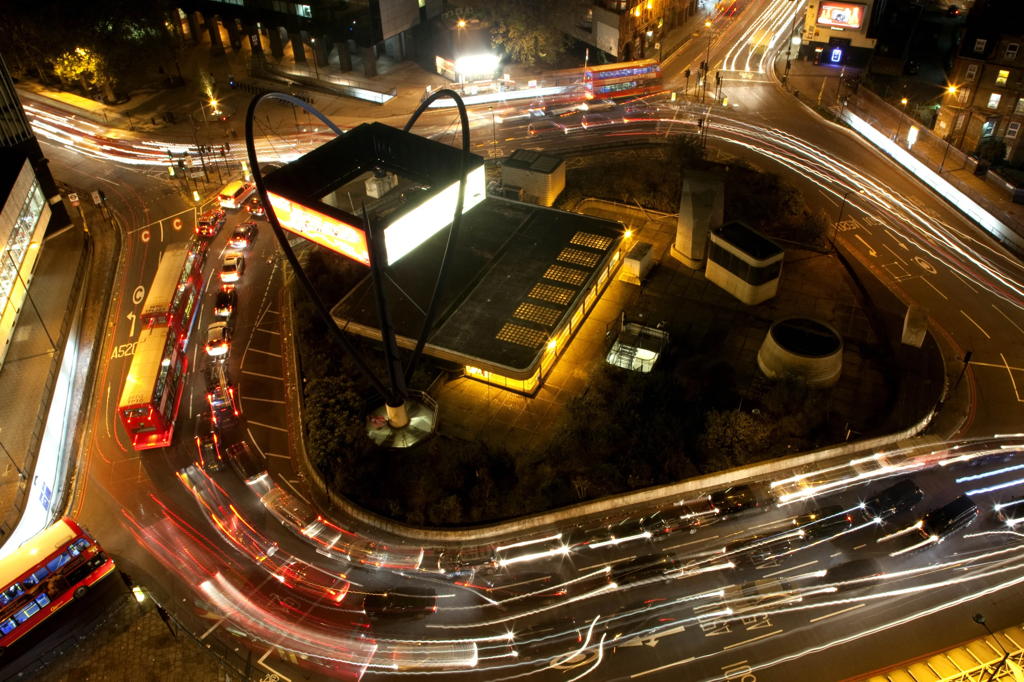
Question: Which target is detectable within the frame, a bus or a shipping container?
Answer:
bus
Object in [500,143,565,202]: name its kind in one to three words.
building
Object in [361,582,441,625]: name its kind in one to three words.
car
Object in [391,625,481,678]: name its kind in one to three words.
van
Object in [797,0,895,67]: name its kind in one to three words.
building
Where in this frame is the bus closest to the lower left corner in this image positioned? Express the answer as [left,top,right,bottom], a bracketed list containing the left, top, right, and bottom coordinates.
[0,521,110,665]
